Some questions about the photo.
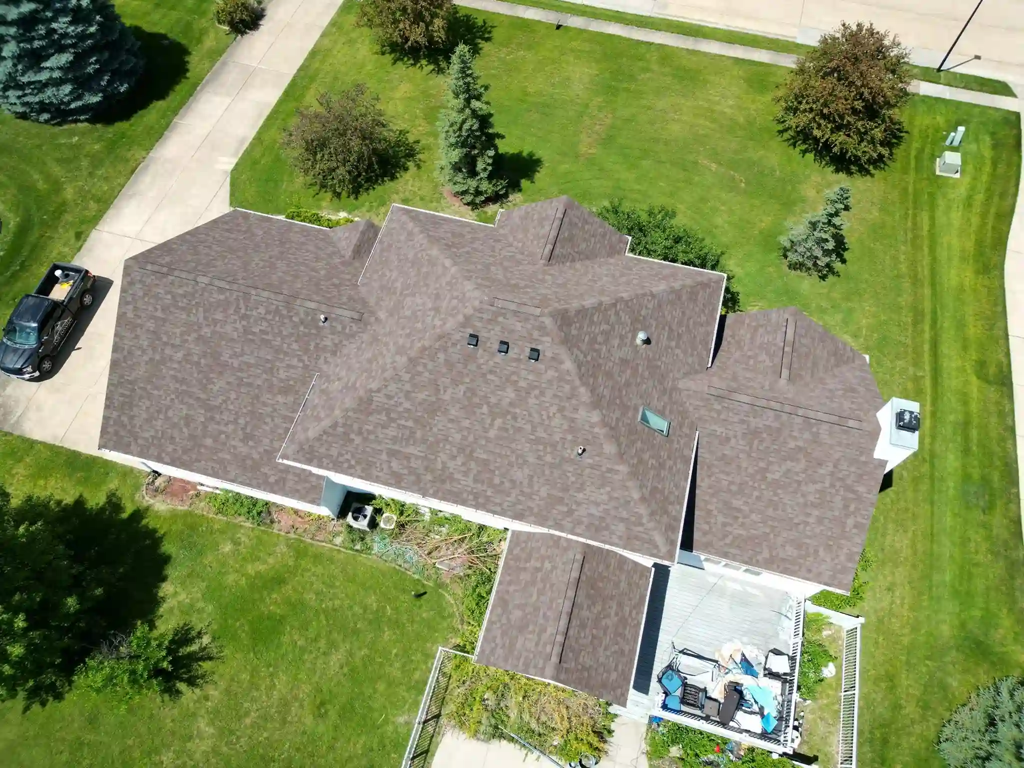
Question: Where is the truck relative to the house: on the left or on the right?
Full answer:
Looking at the picture, you'll find the truck to the left of the house.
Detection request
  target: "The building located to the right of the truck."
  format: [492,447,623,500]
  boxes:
[98,195,921,709]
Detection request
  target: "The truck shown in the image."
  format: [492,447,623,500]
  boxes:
[0,260,102,382]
